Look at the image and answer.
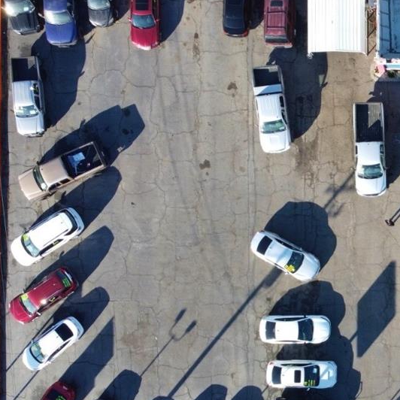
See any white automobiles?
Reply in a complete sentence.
Yes, a white automobile is visible in the scene.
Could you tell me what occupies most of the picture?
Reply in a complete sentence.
For the most part, this view shows paved ground.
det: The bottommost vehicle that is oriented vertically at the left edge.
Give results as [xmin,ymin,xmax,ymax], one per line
[7,55,50,139]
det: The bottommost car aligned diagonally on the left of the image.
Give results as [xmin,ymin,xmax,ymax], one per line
[25,314,87,369]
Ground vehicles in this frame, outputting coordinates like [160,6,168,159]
[25,314,87,369]
[128,0,163,50]
[253,64,293,154]
[15,208,86,264]
[13,266,82,323]
[253,230,318,281]
[21,141,109,199]
[40,0,80,48]
[2,0,44,36]
[352,102,388,198]
[268,359,338,391]
[261,314,333,346]
[7,55,50,139]
[223,0,253,37]
[262,0,298,47]
[40,378,78,400]
[84,0,120,29]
